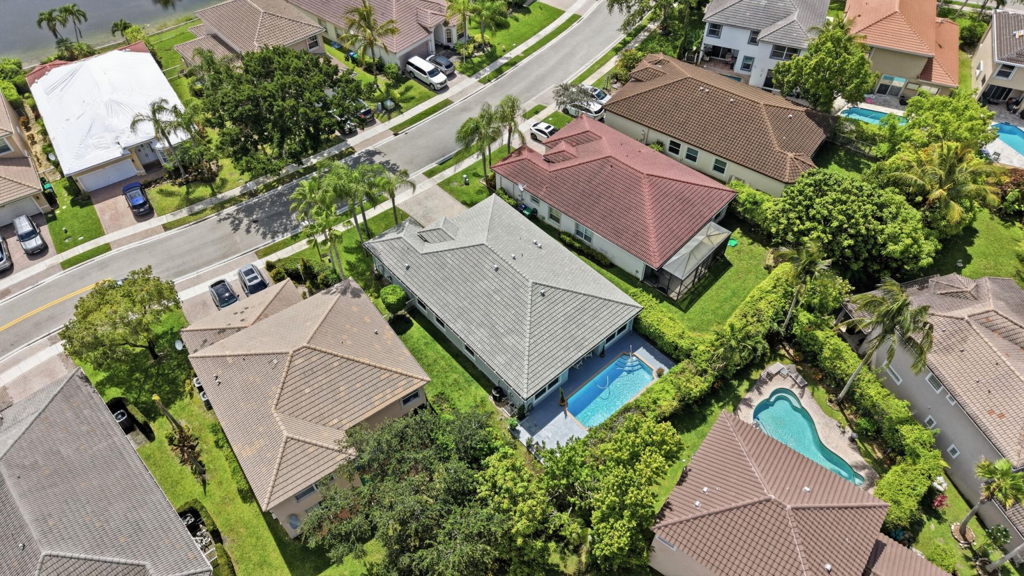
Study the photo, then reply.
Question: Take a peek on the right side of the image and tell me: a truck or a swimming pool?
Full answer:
The one visible on the right side of the image is a swimming pool.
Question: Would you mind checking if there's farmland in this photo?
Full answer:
No, the scene doesn't show any farmland.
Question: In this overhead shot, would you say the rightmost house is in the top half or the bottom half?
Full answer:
The top half of the photo is where the rightmost house is.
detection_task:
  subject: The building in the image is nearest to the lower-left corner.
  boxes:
[0,366,211,576]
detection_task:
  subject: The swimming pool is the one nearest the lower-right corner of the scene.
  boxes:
[753,386,866,486]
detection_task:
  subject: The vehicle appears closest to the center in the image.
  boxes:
[521,121,557,143]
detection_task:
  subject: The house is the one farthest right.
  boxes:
[972,7,1024,117]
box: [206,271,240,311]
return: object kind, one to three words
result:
car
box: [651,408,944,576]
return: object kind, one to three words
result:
house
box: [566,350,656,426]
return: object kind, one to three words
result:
swimming pool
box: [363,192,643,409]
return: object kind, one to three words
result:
house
